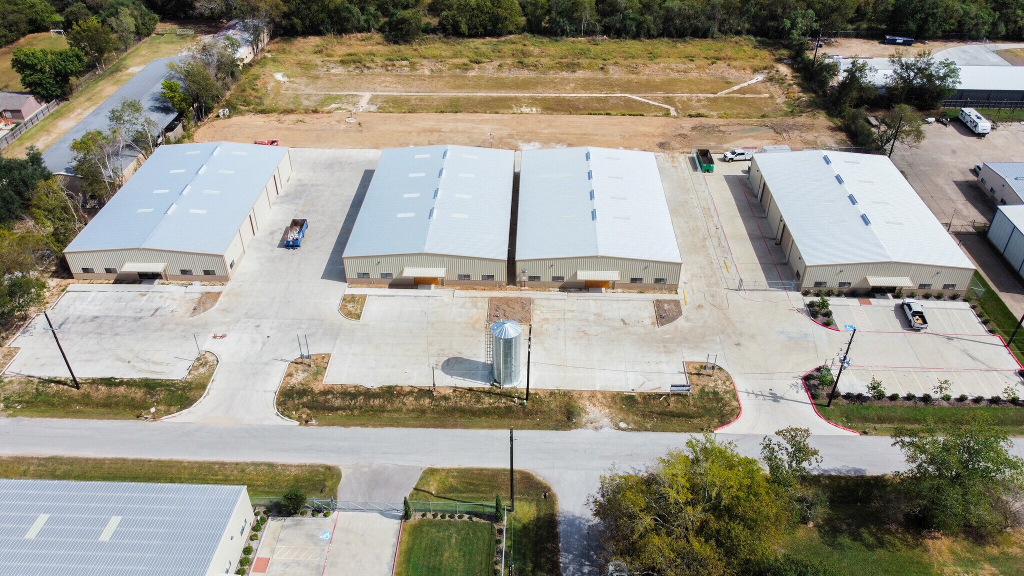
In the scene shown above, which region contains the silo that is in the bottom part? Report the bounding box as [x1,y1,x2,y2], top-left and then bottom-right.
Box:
[483,321,525,394]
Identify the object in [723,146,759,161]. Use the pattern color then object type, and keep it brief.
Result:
white vehicle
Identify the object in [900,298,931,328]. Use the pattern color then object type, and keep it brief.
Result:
white truck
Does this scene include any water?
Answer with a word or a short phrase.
No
